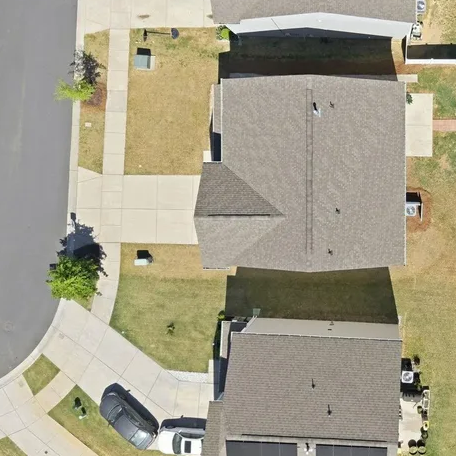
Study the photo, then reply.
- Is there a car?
Yes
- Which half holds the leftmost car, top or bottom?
bottom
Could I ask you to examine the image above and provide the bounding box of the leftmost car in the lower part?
[98,384,160,452]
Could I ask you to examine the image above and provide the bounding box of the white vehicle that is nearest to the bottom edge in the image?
[158,424,200,456]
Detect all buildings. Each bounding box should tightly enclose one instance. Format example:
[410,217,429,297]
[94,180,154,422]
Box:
[205,0,417,39]
[192,75,407,272]
[196,309,401,456]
